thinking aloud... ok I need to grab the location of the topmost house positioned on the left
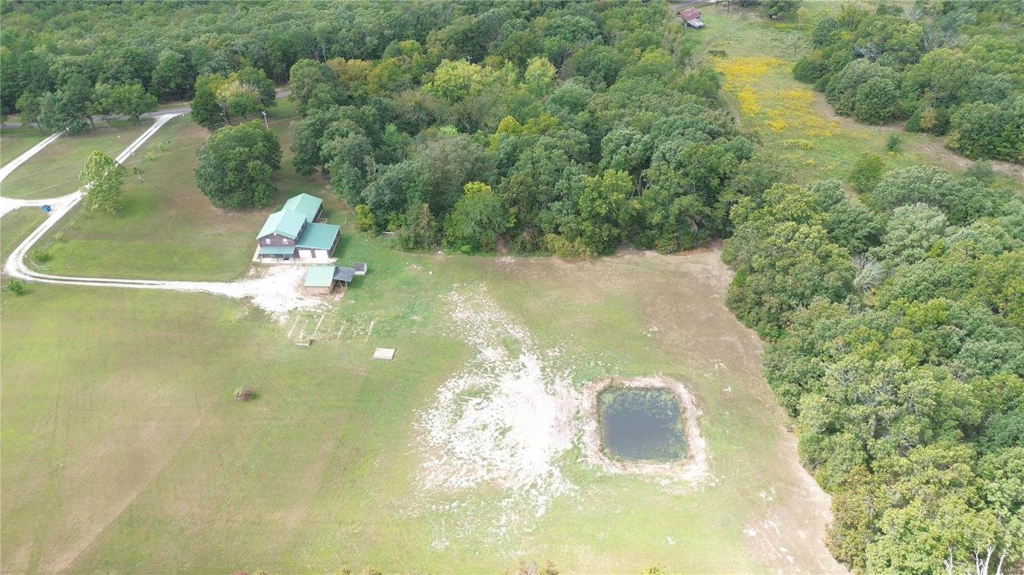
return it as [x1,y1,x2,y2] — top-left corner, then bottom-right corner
[251,192,340,264]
